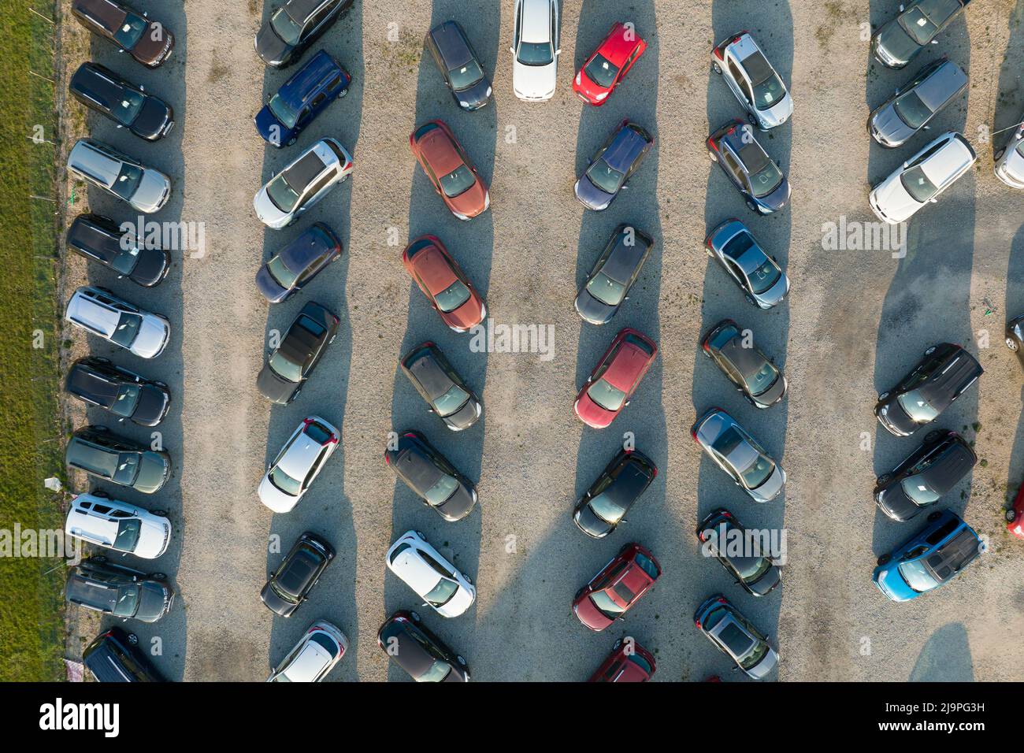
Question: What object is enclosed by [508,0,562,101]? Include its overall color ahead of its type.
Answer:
white car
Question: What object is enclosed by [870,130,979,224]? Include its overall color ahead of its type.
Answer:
white car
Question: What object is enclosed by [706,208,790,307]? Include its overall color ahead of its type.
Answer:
blue car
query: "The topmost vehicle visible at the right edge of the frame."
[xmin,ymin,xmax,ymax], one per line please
[870,0,978,73]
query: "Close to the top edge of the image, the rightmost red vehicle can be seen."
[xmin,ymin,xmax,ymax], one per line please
[573,19,647,108]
